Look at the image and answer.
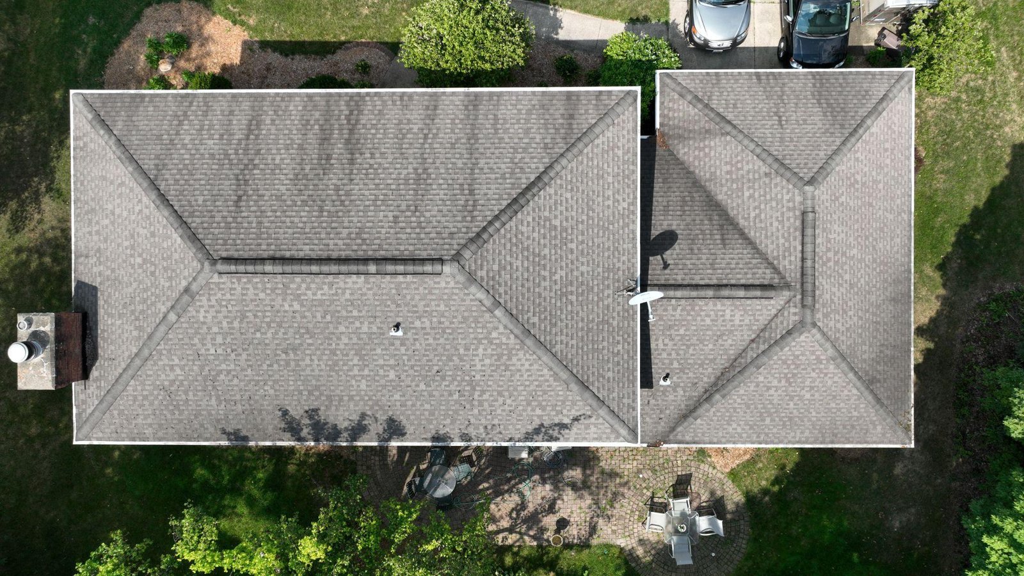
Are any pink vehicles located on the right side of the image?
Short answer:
No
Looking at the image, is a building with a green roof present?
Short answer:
No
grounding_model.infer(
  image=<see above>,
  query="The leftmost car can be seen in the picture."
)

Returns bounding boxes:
[682,0,753,54]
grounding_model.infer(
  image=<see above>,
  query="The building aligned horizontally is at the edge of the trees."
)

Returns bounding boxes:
[10,68,915,447]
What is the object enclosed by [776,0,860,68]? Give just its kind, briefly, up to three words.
car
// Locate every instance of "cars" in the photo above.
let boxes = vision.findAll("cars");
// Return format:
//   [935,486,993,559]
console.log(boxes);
[776,0,860,68]
[682,0,753,54]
